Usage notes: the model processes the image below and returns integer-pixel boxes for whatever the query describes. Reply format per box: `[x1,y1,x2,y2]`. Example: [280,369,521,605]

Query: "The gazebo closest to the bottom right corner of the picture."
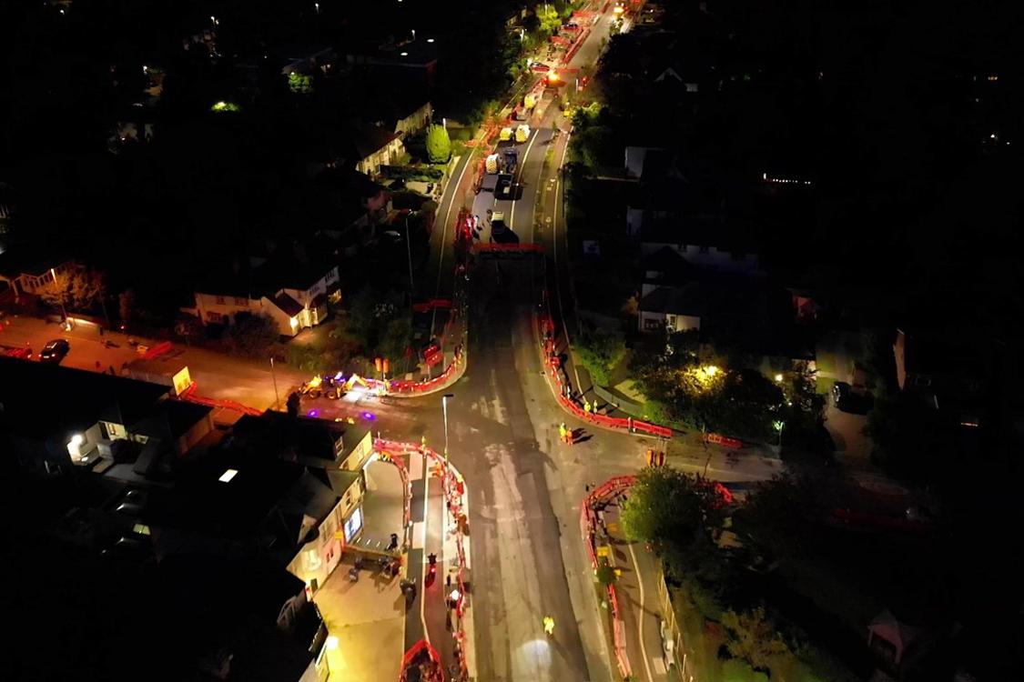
[862,599,927,676]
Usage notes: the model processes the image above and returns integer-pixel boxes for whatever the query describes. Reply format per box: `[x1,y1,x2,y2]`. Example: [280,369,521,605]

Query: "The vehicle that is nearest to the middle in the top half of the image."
[490,214,505,235]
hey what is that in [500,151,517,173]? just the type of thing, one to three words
vehicle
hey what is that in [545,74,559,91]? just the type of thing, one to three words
work vehicle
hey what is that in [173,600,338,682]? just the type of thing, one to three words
building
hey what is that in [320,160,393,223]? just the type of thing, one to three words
house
